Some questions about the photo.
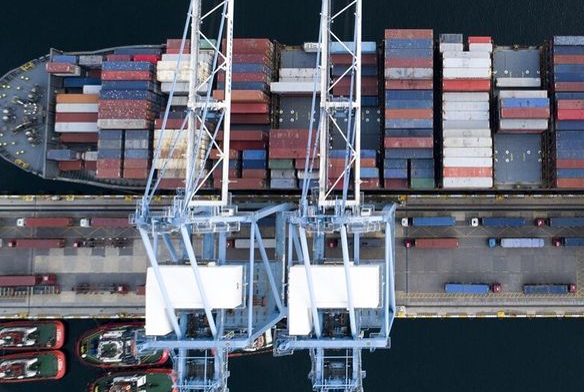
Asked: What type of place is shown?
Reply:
port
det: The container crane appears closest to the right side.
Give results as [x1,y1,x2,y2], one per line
[266,0,412,392]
